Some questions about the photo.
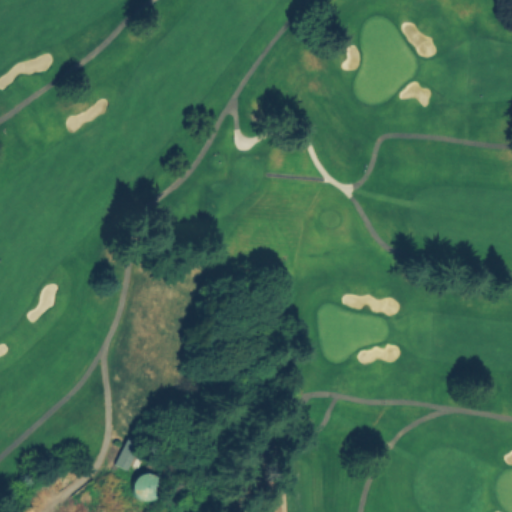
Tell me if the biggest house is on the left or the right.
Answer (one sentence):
It is on the left.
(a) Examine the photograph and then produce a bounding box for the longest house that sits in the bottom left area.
[115,442,136,472]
